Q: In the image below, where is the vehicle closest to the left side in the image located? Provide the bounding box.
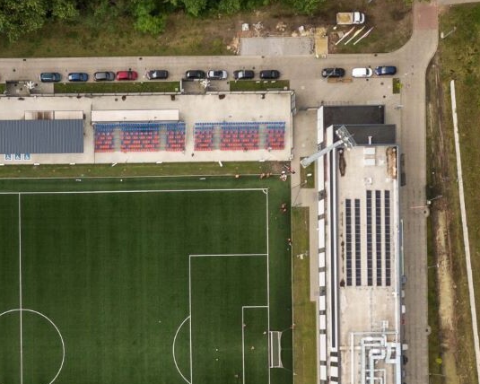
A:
[40,70,62,83]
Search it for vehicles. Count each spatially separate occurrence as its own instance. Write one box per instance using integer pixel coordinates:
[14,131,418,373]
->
[231,68,255,80]
[373,64,397,76]
[117,69,137,81]
[40,70,62,83]
[183,68,206,80]
[146,68,169,80]
[334,12,363,25]
[206,68,229,80]
[93,72,114,81]
[68,72,88,82]
[349,66,373,78]
[320,66,345,78]
[257,68,280,80]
